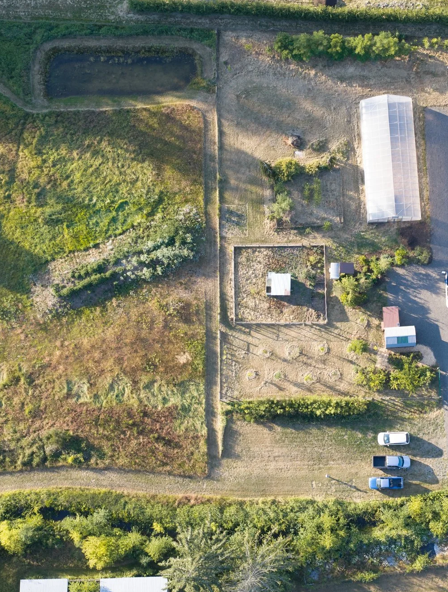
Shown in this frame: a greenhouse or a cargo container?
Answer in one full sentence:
This aerial view contains a greenhouse.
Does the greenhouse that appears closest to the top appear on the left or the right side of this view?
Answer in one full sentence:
The greenhouse that appears closest to the top is on the right side of the image.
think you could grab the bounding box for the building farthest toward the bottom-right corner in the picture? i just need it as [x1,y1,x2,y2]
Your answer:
[383,325,416,348]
